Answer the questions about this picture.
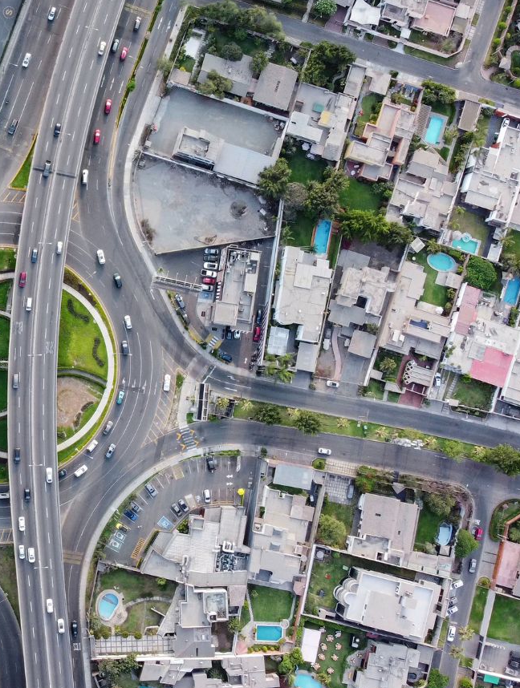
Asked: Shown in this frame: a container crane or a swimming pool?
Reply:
swimming pool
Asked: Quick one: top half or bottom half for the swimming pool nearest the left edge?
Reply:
bottom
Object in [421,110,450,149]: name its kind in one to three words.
swimming pool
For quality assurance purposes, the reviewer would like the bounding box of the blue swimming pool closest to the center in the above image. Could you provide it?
[314,218,335,256]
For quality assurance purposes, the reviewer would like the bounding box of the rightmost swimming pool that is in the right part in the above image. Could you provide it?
[501,274,520,308]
